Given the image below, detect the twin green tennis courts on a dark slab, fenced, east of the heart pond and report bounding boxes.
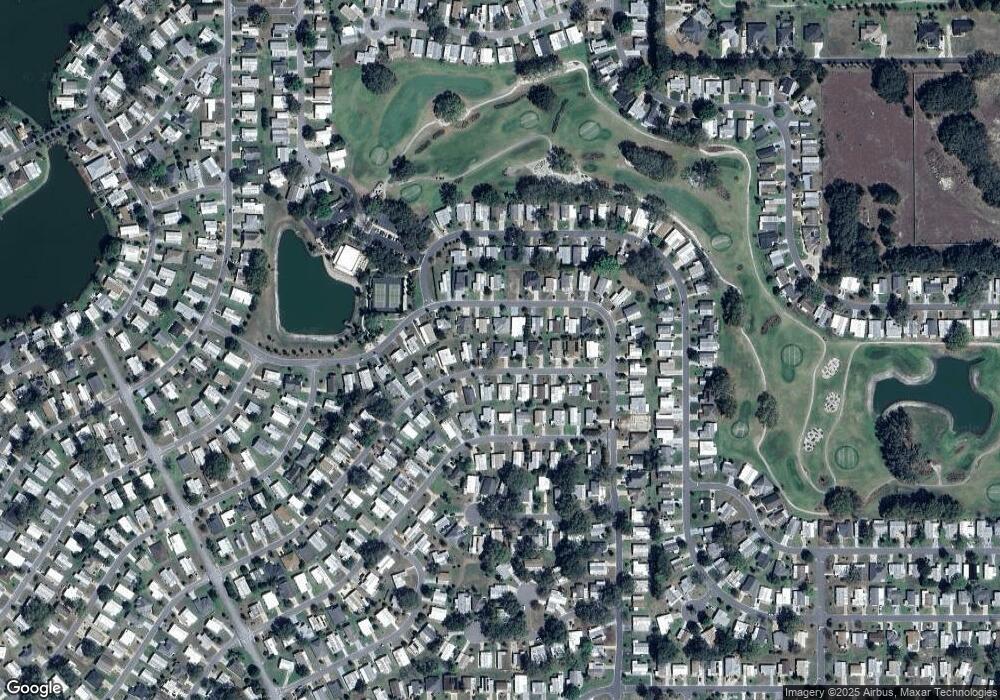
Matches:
[372,277,406,310]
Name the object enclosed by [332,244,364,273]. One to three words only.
building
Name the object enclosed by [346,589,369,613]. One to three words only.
house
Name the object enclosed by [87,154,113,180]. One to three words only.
house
